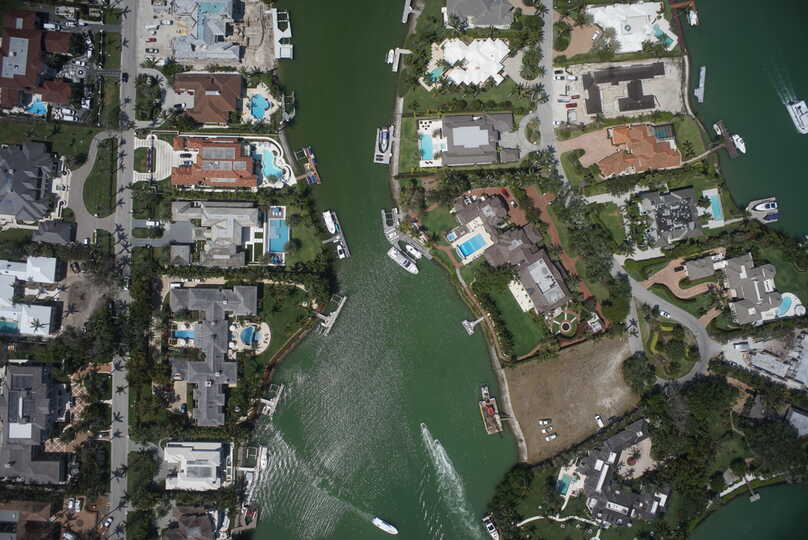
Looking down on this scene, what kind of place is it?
residential area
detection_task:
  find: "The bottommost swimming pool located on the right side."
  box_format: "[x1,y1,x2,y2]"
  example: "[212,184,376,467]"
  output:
[557,472,571,497]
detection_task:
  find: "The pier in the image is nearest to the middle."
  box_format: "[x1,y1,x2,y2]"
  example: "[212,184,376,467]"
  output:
[380,208,432,261]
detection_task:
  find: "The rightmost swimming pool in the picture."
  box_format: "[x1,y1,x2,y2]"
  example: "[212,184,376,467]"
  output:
[774,293,805,318]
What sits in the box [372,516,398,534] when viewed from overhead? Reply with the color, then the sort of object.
white boat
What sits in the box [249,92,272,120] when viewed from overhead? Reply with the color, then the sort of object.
blue swimming pool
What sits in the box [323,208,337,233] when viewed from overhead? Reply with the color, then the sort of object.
white boat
